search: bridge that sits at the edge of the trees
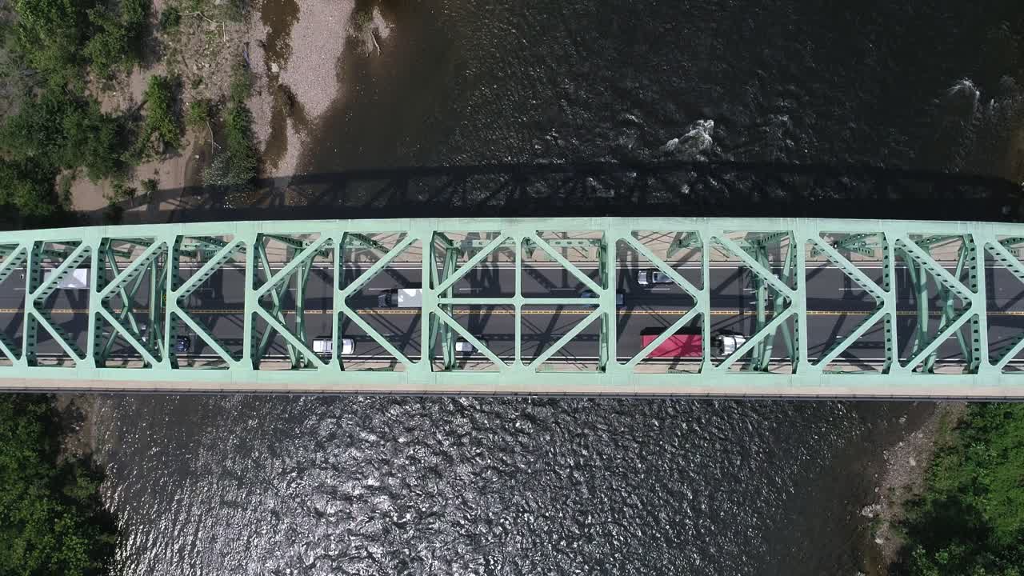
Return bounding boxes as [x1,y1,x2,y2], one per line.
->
[0,217,1024,403]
